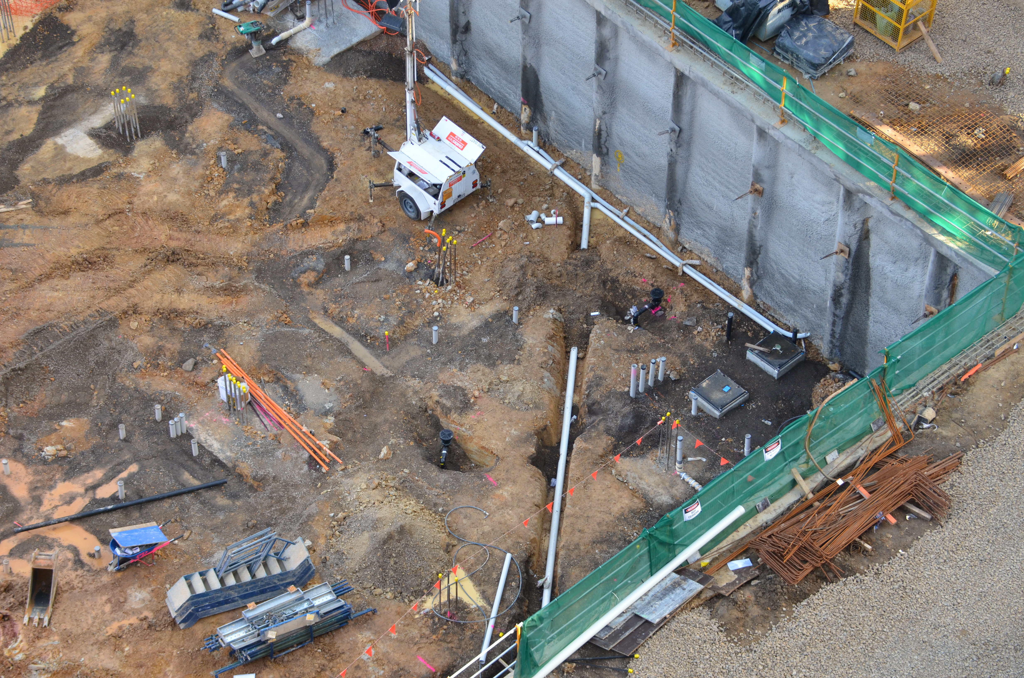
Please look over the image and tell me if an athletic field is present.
No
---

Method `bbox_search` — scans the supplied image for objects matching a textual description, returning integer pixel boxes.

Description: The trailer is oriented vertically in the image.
[365,0,496,251]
